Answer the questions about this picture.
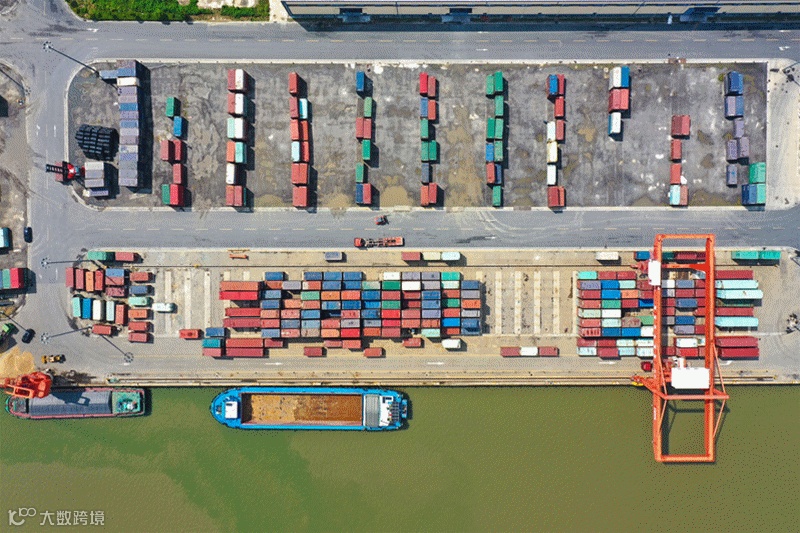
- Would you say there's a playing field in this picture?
No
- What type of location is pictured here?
port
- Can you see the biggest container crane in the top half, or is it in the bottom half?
bottom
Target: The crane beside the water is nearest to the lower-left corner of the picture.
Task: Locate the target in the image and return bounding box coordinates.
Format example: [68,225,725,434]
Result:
[4,371,64,399]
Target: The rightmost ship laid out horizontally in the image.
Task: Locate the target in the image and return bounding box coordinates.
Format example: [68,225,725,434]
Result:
[212,386,401,431]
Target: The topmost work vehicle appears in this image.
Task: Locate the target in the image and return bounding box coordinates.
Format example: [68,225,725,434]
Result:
[46,160,84,180]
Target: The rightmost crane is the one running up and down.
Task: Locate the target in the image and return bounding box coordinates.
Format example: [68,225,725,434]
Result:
[622,237,730,460]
